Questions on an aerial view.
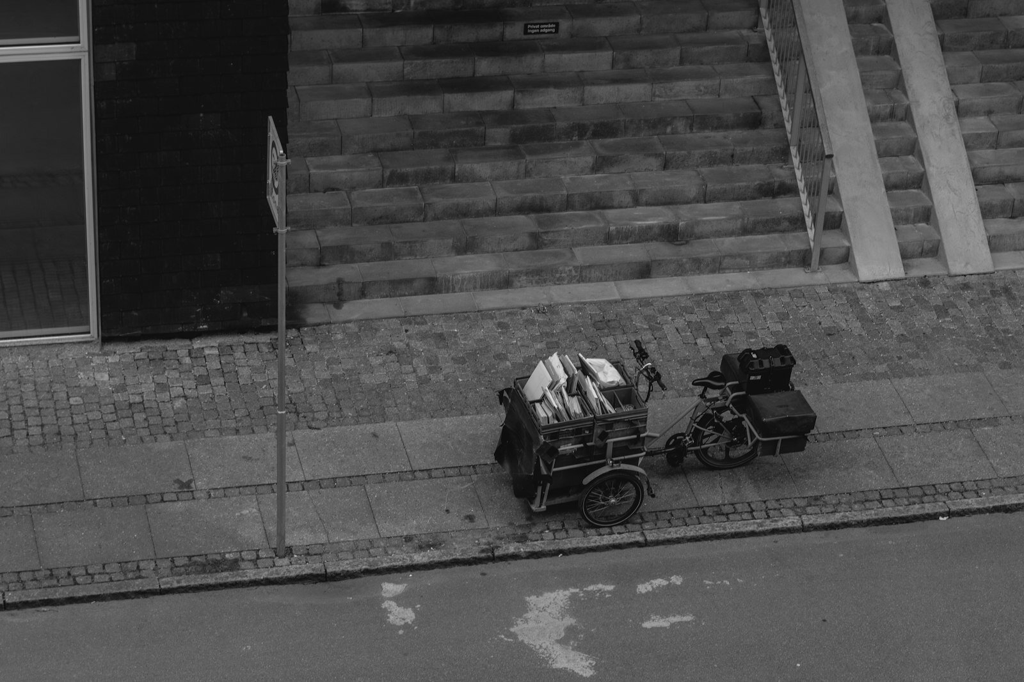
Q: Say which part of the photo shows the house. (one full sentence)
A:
The house is located in the top left region of the scene.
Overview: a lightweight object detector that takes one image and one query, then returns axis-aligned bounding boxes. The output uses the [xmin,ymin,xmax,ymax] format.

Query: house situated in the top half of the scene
[0,0,291,350]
